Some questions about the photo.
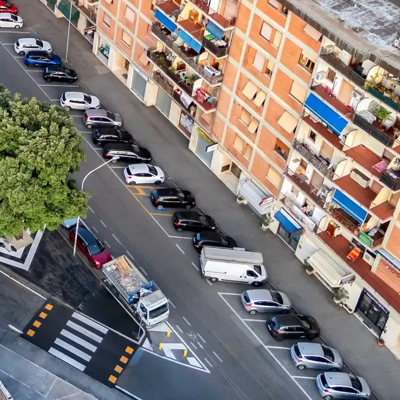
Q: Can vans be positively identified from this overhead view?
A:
Yes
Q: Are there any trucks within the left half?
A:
Yes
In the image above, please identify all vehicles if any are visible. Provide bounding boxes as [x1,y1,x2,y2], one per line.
[238,288,295,315]
[149,186,197,210]
[90,123,137,148]
[0,13,24,31]
[122,164,167,186]
[23,47,64,68]
[264,312,324,344]
[53,205,87,244]
[78,105,128,130]
[68,223,112,271]
[310,371,376,400]
[195,241,270,288]
[13,35,54,56]
[101,259,174,340]
[57,88,103,111]
[101,141,153,165]
[0,0,20,16]
[285,341,349,373]
[167,207,222,234]
[41,64,80,86]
